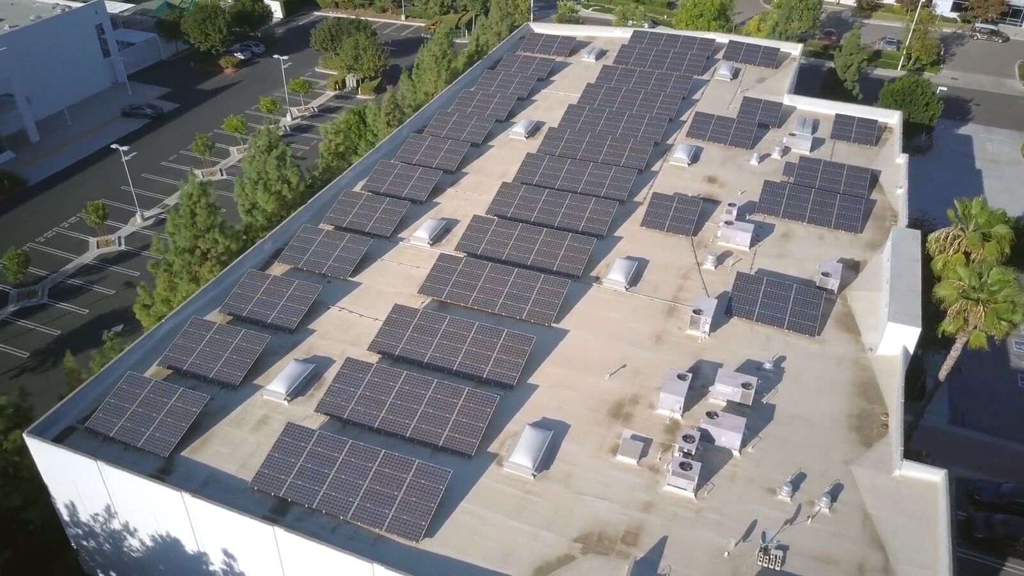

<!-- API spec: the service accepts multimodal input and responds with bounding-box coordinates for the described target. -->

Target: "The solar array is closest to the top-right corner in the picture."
[830,114,878,148]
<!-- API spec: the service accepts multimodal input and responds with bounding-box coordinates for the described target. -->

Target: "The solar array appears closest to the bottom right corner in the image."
[727,270,825,335]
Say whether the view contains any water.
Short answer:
No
